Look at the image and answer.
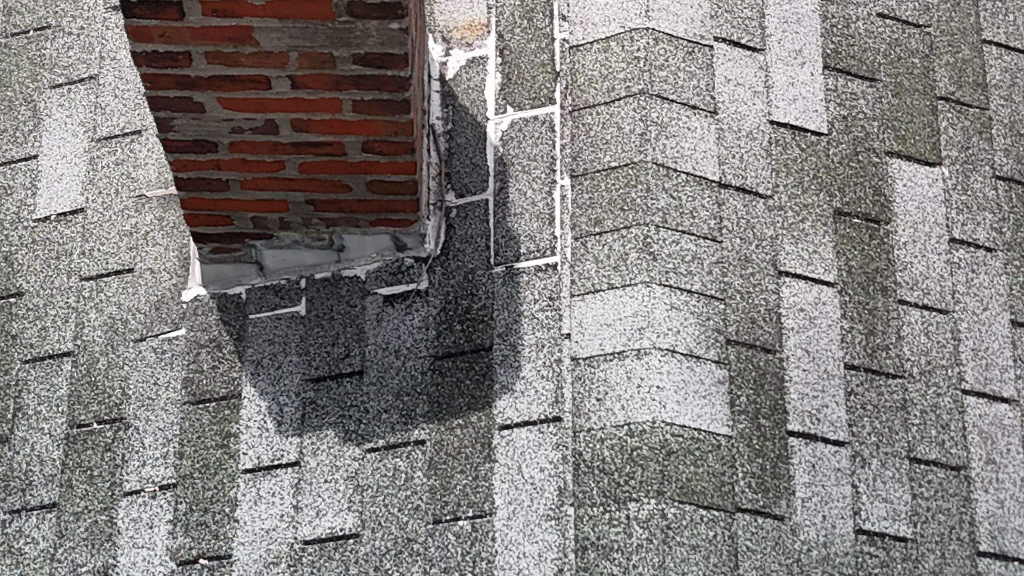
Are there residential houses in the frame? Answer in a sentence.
No, there isn't any residential house down there.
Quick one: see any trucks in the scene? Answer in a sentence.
No, there's no truck here.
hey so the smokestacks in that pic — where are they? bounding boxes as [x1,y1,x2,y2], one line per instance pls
[118,0,443,296]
